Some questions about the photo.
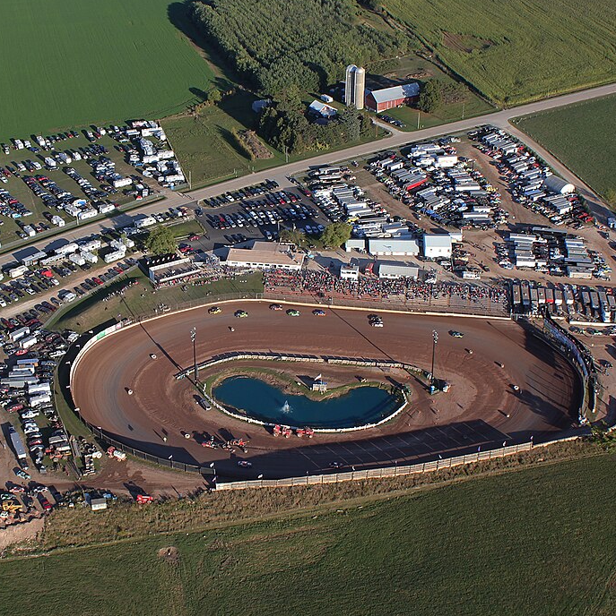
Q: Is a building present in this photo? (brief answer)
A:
Yes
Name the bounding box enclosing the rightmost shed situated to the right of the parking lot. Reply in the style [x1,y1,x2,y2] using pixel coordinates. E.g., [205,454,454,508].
[543,168,578,192]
